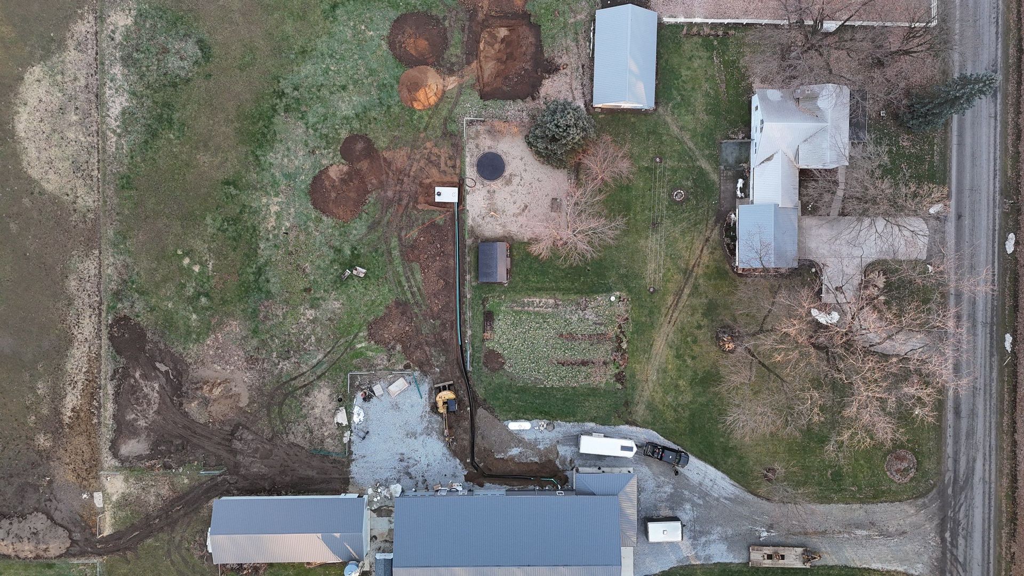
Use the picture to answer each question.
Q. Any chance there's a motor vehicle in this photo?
Yes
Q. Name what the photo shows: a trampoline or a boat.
trampoline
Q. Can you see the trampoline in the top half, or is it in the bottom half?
top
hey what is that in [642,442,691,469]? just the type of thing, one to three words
truck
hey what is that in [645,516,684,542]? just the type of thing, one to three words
trailer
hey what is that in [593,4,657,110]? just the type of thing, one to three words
shed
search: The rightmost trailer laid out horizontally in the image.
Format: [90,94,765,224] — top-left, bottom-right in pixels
[748,545,819,568]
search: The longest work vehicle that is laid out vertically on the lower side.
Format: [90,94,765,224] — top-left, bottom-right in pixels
[434,380,457,446]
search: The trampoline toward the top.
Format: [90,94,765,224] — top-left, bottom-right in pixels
[474,150,507,183]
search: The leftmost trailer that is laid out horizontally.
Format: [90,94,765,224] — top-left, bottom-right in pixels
[576,429,640,457]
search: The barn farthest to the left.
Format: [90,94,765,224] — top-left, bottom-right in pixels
[209,495,369,564]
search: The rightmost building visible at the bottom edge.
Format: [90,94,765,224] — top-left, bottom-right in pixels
[393,470,638,576]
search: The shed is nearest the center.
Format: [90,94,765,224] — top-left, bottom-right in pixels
[478,242,512,283]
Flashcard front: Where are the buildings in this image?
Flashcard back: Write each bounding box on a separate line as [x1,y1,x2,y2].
[593,4,657,110]
[478,242,512,283]
[393,470,638,576]
[209,495,369,564]
[736,84,849,268]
